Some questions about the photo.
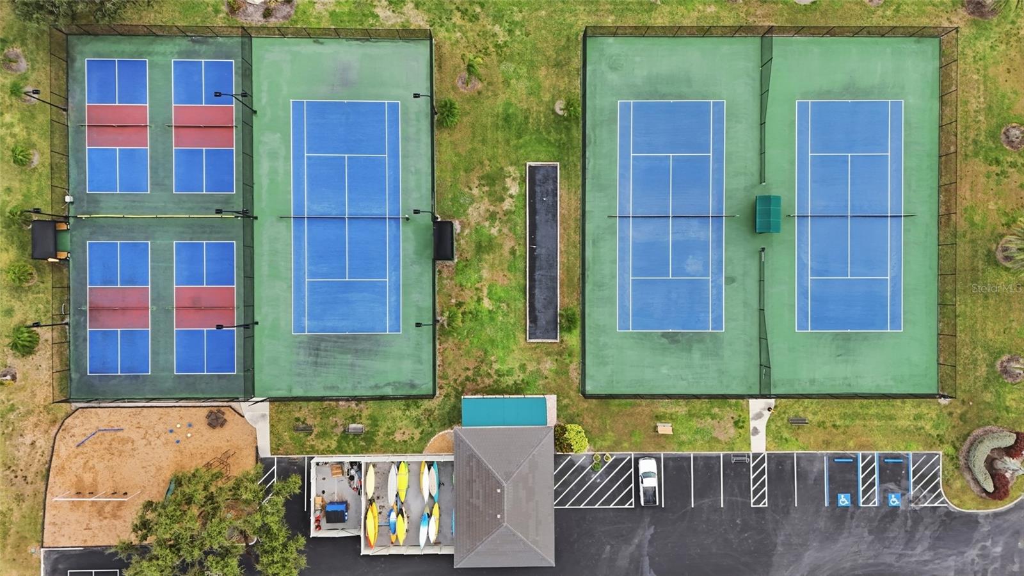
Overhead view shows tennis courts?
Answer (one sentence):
Yes, the image includes a tennis court.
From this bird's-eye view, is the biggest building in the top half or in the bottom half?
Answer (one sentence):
The biggest building sits in the bottom half of the picture.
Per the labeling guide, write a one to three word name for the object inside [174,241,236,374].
sports court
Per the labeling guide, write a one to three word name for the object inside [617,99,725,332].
tennis court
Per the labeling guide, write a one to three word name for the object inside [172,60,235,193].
sports court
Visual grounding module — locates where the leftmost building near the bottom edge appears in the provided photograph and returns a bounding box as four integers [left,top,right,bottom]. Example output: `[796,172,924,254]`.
[453,426,555,568]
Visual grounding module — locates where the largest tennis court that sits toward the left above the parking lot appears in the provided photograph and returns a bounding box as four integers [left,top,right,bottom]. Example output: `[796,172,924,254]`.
[291,100,401,335]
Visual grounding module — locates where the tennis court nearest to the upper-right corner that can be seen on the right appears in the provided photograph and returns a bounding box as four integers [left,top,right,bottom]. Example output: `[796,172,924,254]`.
[797,100,903,332]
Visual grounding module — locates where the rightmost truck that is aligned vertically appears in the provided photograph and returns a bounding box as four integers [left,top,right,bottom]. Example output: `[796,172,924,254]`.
[638,456,661,508]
